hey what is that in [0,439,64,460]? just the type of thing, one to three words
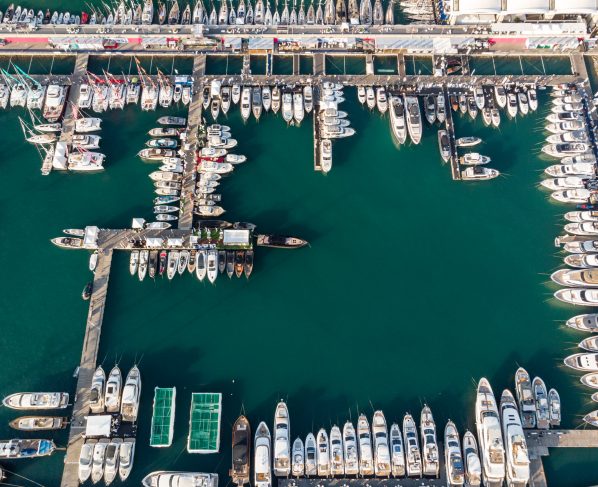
vessel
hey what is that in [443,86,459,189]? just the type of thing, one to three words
pier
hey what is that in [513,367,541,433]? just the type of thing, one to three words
boat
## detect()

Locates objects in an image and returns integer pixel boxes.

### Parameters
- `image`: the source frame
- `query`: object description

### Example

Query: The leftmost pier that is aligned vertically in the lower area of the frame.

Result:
[58,237,113,487]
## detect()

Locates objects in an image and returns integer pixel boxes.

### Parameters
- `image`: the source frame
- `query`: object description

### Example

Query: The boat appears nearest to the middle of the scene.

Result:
[257,234,311,248]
